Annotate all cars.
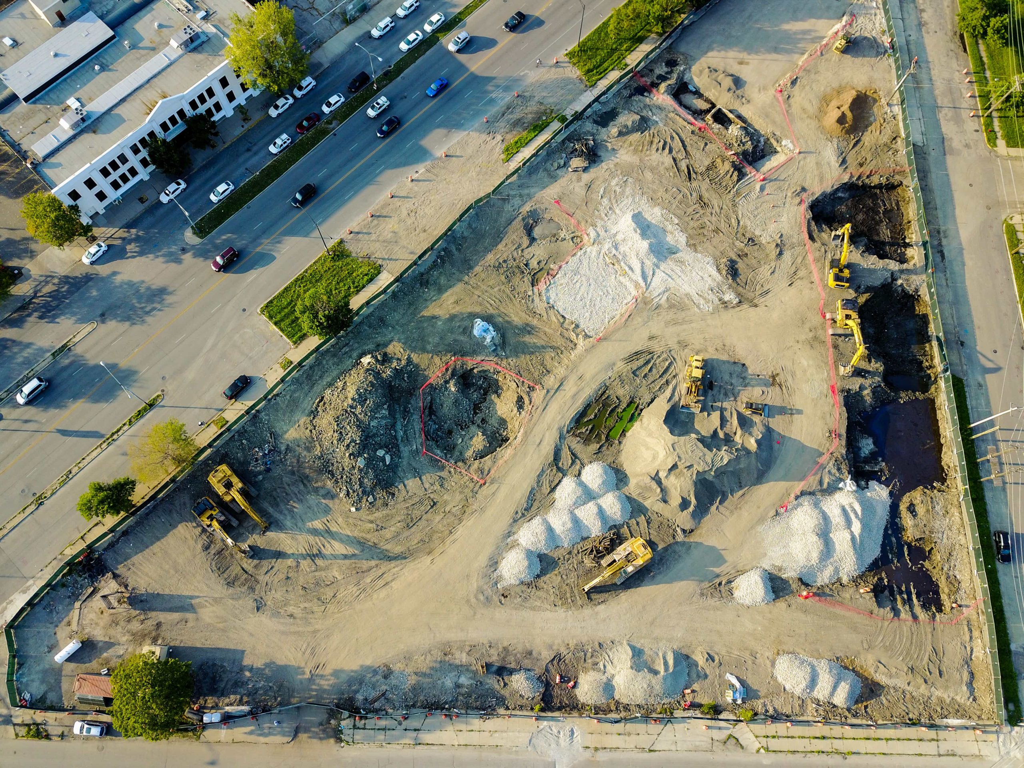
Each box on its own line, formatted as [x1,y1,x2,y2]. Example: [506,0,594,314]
[290,182,318,208]
[209,180,237,204]
[74,723,108,740]
[394,0,420,21]
[211,246,240,272]
[365,95,391,120]
[222,374,252,401]
[321,91,346,115]
[375,115,401,139]
[369,15,395,40]
[398,30,424,53]
[992,530,1014,563]
[268,94,295,118]
[424,76,450,99]
[266,131,294,157]
[345,69,372,94]
[16,376,49,405]
[422,11,448,34]
[82,241,110,266]
[292,75,318,98]
[160,180,188,204]
[446,30,471,54]
[295,111,322,135]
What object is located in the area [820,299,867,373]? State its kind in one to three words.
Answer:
work vehicle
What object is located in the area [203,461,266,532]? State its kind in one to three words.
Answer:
work vehicle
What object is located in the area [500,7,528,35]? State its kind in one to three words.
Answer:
truck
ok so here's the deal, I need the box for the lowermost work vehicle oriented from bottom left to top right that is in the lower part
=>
[585,533,658,593]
